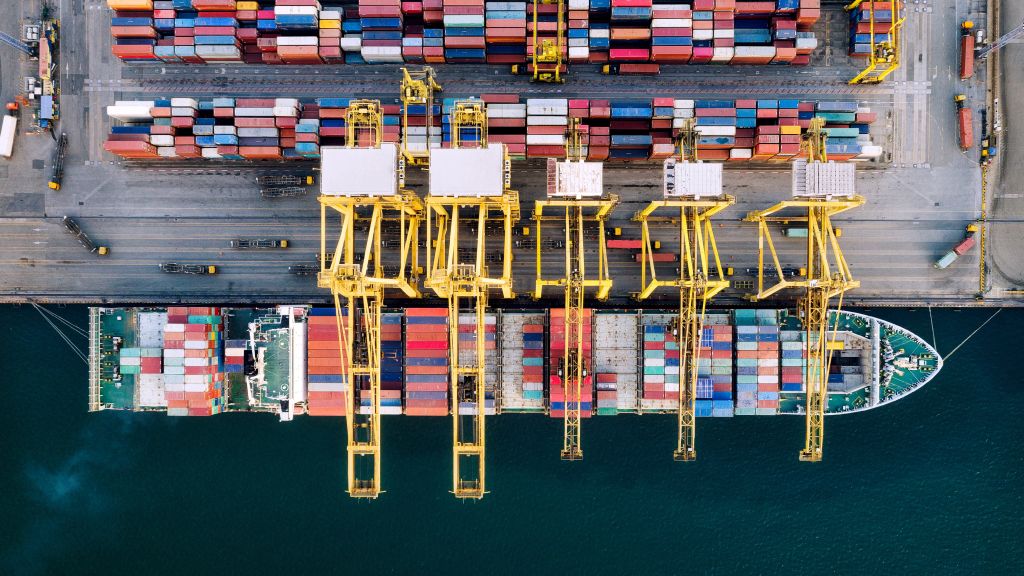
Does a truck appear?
Yes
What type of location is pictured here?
port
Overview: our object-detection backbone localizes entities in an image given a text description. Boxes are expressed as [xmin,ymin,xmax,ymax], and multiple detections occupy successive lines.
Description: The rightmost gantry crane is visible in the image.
[843,0,903,84]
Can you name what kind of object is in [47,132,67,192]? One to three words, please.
vehicle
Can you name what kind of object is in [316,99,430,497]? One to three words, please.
container crane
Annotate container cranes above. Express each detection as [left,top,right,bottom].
[316,99,430,497]
[624,119,733,460]
[424,100,522,504]
[525,0,567,83]
[521,119,617,459]
[400,59,446,166]
[745,119,868,460]
[843,0,903,84]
